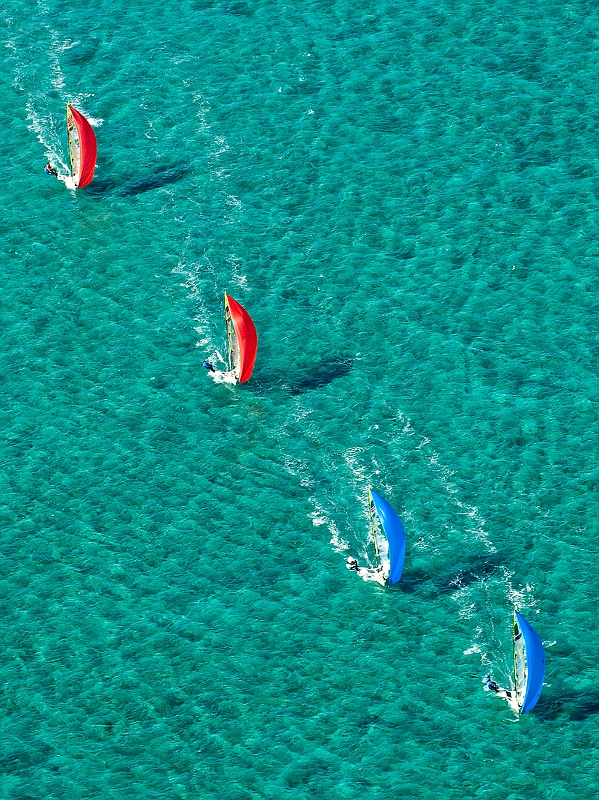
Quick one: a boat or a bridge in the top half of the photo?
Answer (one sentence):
The one visible in the top half of the photo is a boat.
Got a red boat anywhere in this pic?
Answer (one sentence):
Yes, I can see a red boat in this picture.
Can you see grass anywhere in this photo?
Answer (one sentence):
No, there's no grass in this view.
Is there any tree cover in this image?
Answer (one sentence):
No, tree cover can't be seen anywhere here.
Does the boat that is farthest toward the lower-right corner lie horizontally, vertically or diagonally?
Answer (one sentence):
From this overhead view, the boat that is farthest toward the lower-right corner appears to run vertically.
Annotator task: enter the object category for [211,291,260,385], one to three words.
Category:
boat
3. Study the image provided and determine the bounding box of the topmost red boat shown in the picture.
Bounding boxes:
[52,103,97,190]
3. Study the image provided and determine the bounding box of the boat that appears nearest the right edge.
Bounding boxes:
[490,605,547,716]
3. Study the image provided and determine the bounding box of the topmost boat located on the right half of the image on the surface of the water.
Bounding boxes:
[356,486,408,588]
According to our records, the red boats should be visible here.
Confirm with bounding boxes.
[211,291,260,385]
[52,103,97,190]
